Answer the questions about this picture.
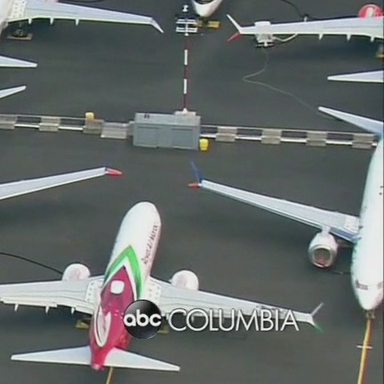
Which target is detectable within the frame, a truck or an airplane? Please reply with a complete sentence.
The one in the frame is an airplane.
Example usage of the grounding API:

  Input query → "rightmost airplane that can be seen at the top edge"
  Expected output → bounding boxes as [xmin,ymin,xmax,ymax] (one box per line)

[231,7,384,84]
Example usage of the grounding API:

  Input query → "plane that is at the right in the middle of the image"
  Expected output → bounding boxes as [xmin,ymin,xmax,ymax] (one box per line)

[194,103,384,315]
